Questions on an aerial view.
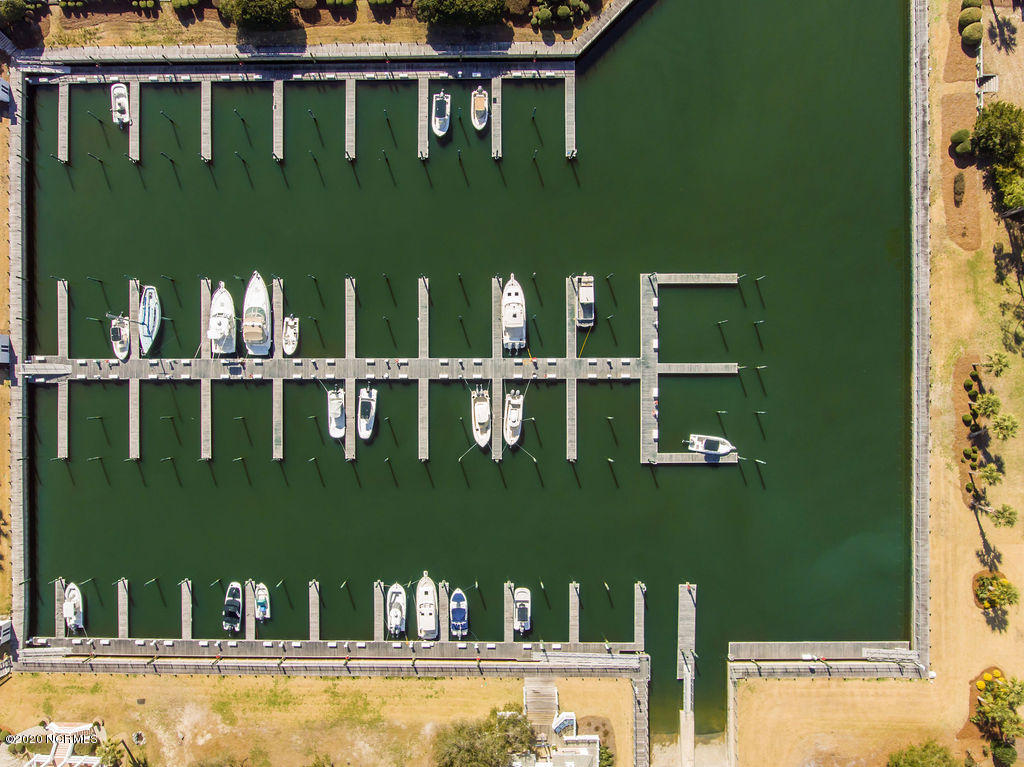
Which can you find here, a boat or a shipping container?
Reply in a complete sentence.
Of the two, only a boat appears.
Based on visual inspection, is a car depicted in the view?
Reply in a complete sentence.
No, this view has no car in it.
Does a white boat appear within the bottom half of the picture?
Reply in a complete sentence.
Yes, a white boat shows up within the bottom half of the picture.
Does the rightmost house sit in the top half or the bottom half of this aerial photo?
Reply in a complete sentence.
The rightmost house is in the bottom half of the image.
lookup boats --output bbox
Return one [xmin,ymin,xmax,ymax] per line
[255,583,270,622]
[432,86,450,137]
[577,273,594,325]
[327,382,346,438]
[242,270,273,354]
[387,583,406,635]
[450,588,468,644]
[223,582,243,640]
[104,286,160,354]
[62,583,85,637]
[416,572,439,639]
[194,281,238,354]
[514,588,531,634]
[110,310,133,360]
[682,434,737,454]
[282,314,299,355]
[471,88,488,130]
[471,383,491,447]
[111,83,130,129]
[501,272,525,351]
[504,391,523,446]
[357,381,377,439]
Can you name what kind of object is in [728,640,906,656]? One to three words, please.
pier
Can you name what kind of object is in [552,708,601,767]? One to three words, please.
house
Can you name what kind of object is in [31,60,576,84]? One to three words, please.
pier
